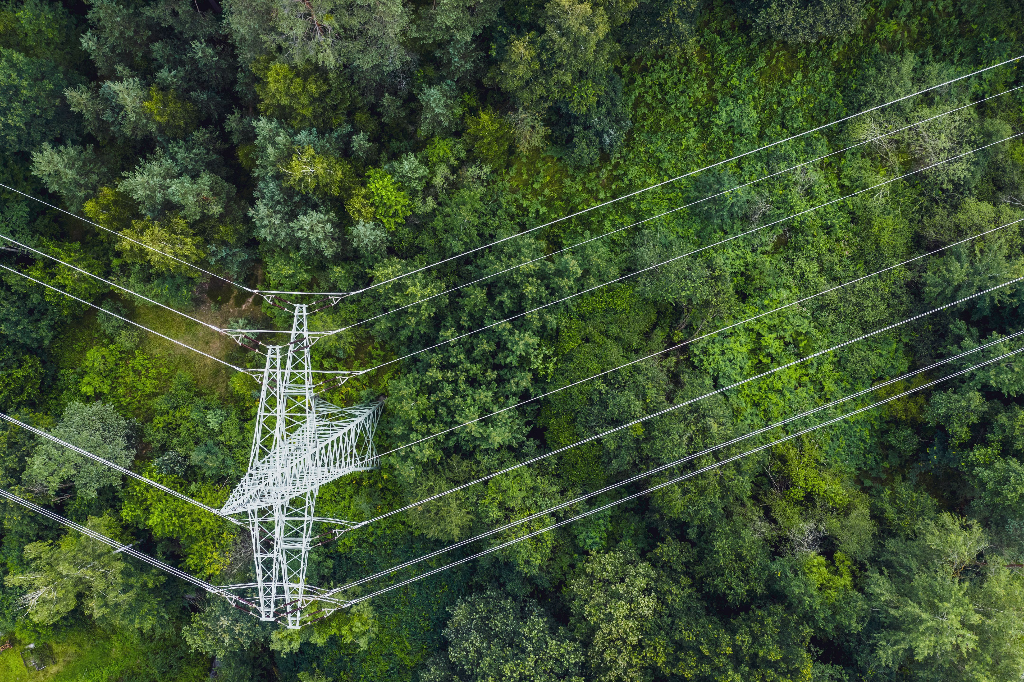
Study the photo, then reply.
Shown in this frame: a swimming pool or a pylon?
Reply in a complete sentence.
Looking from above, you can make out a pylon.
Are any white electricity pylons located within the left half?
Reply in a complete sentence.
Yes, within the left half there is a white electricity pylon.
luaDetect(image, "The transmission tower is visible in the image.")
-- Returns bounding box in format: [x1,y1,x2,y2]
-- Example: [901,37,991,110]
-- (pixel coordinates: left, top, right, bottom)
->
[214,306,390,630]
